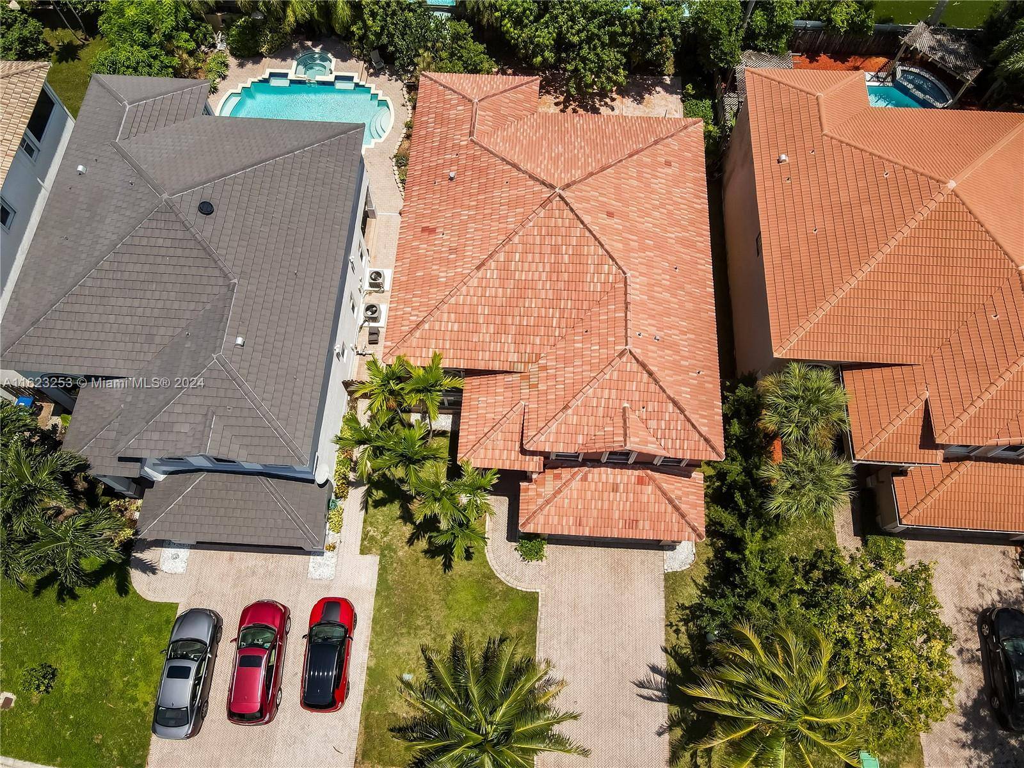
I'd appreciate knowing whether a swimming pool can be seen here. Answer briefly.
Yes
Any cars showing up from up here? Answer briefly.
Yes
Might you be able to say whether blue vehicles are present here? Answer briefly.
No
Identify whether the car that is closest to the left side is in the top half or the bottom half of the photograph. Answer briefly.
bottom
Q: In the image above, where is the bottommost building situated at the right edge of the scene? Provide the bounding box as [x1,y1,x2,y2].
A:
[721,64,1024,536]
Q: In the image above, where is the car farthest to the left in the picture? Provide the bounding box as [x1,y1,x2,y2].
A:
[151,606,222,740]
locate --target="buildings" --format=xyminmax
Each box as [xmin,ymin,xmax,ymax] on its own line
[0,72,370,555]
[383,67,728,545]
[721,64,1024,536]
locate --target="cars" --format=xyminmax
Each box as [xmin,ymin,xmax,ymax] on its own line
[980,603,1024,730]
[299,597,357,711]
[151,606,222,740]
[227,599,290,725]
